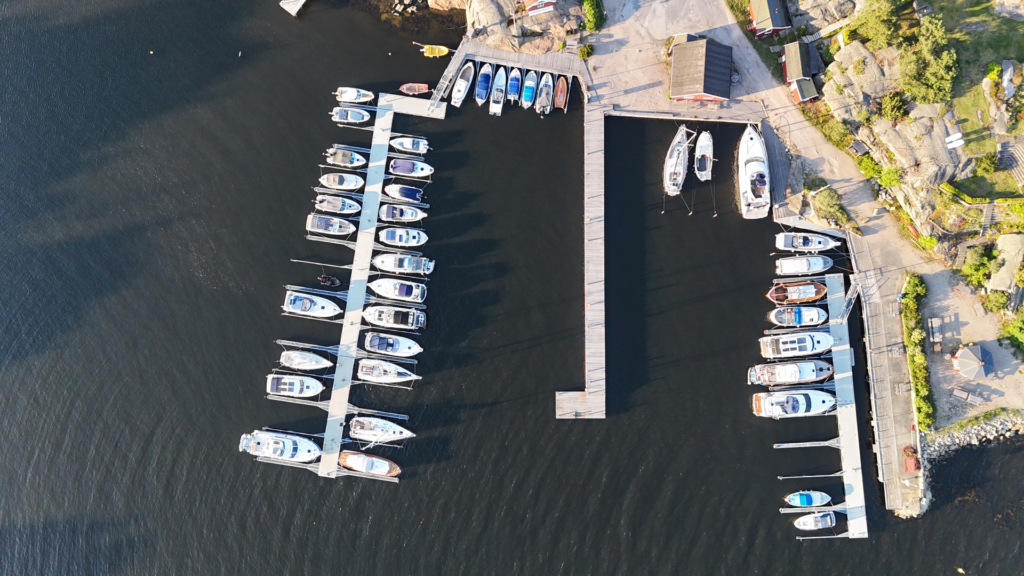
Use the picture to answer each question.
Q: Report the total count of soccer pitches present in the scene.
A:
0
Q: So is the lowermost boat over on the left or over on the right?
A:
right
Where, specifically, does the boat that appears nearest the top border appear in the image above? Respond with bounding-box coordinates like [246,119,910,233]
[416,45,459,59]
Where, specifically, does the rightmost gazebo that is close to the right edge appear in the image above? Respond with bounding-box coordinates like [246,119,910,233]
[952,345,994,384]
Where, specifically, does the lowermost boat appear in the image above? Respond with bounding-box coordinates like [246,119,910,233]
[792,509,837,531]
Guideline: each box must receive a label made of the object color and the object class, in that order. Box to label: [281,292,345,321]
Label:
white boat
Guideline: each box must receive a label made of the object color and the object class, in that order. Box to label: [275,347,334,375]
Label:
white boat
